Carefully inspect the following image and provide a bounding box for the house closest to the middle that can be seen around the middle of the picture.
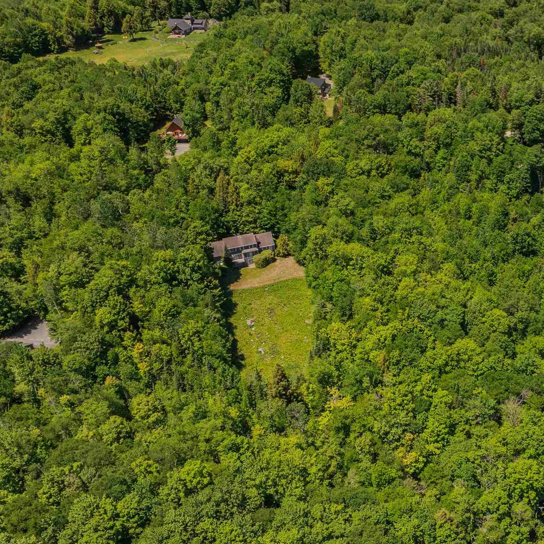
[207,227,275,266]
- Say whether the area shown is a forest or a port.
forest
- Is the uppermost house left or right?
left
